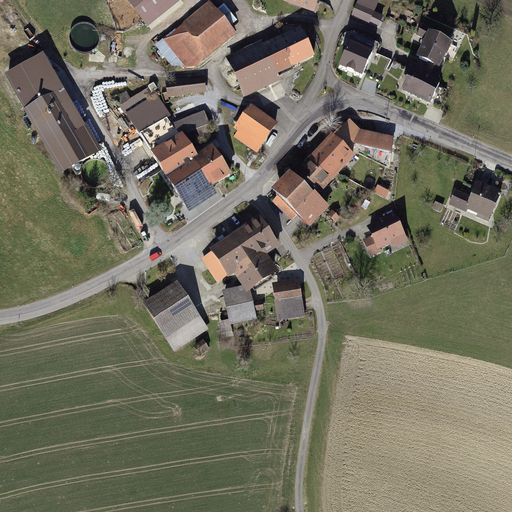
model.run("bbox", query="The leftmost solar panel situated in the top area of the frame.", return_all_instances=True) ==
[176,171,216,210]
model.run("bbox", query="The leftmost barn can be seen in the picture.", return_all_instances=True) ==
[6,51,100,174]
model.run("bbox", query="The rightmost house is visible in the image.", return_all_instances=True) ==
[449,179,501,222]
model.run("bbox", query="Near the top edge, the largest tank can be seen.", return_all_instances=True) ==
[70,22,100,53]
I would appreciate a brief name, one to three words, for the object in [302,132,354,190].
building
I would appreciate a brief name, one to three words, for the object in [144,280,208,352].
barn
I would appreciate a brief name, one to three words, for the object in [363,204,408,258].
house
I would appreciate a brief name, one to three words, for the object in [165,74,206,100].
shed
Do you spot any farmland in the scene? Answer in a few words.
Yes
